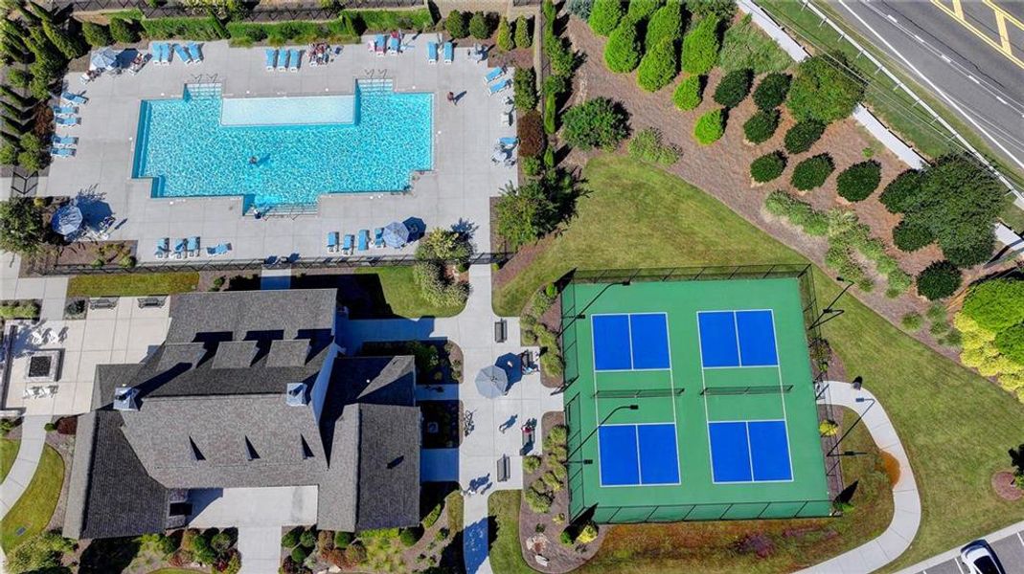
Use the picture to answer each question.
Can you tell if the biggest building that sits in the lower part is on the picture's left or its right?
left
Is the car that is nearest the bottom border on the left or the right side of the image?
right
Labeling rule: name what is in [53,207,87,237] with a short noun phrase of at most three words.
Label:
umbrella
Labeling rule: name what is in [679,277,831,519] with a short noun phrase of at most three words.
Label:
sports court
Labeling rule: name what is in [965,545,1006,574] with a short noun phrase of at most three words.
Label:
car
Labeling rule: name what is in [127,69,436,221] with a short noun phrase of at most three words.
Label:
swimming pool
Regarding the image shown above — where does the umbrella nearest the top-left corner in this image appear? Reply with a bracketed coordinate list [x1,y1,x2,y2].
[94,48,122,75]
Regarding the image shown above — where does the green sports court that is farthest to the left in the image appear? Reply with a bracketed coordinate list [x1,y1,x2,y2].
[560,280,701,522]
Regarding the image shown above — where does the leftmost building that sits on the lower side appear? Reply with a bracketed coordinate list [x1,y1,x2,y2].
[62,289,421,543]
